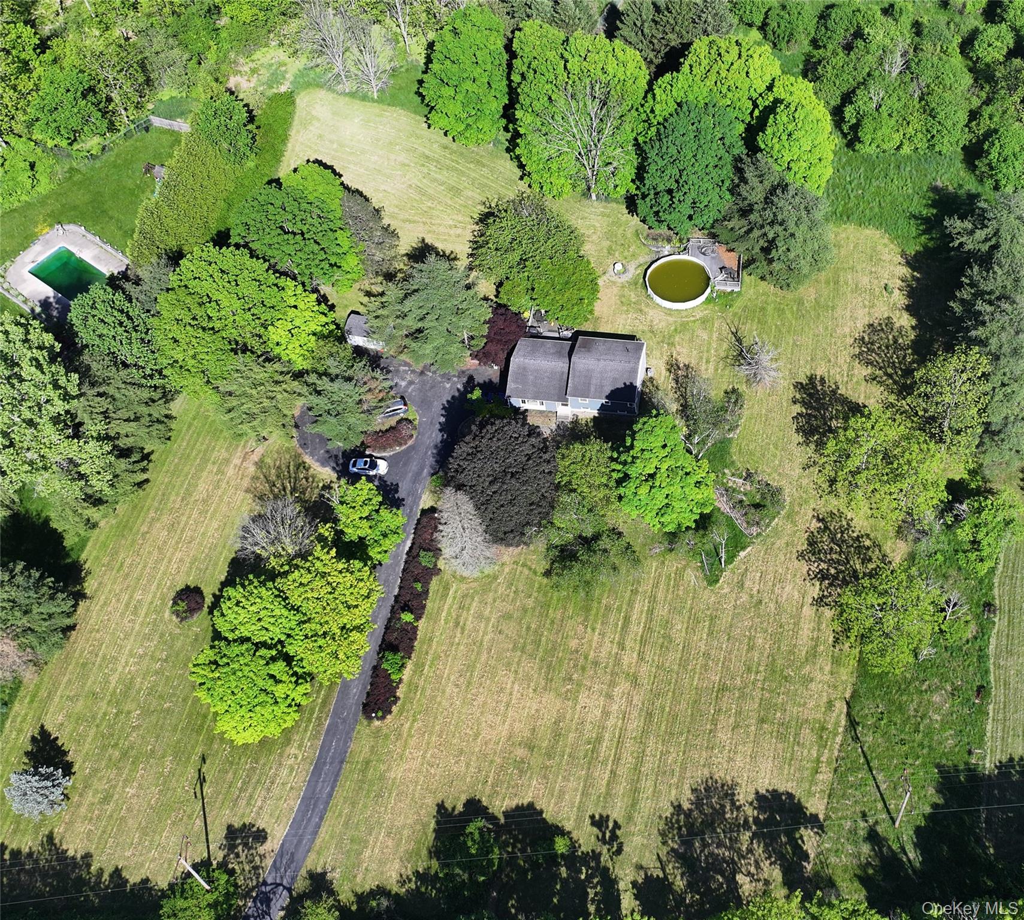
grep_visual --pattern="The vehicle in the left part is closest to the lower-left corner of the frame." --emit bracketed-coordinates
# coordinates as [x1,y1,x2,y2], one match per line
[347,459,390,478]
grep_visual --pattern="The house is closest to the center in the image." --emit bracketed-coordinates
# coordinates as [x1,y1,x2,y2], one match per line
[505,336,647,429]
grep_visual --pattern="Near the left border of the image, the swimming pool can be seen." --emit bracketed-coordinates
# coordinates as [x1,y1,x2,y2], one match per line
[23,242,109,304]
